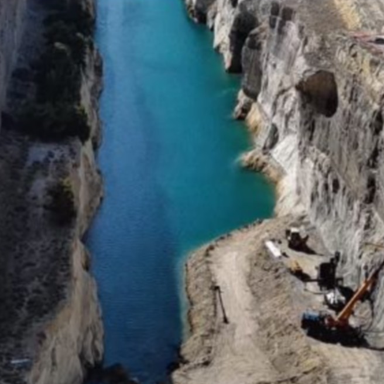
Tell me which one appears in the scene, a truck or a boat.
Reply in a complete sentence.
The one in the frame is a truck.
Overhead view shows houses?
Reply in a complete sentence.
No, there is no house in the image.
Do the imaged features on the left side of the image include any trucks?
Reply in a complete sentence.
No, no truck appears on the left side of the image.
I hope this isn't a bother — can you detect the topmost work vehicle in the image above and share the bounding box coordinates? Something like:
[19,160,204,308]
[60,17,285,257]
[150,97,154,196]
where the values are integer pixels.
[282,225,320,247]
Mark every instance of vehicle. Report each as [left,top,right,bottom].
[323,286,352,311]
[304,259,384,343]
[282,225,320,247]
[288,259,318,279]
